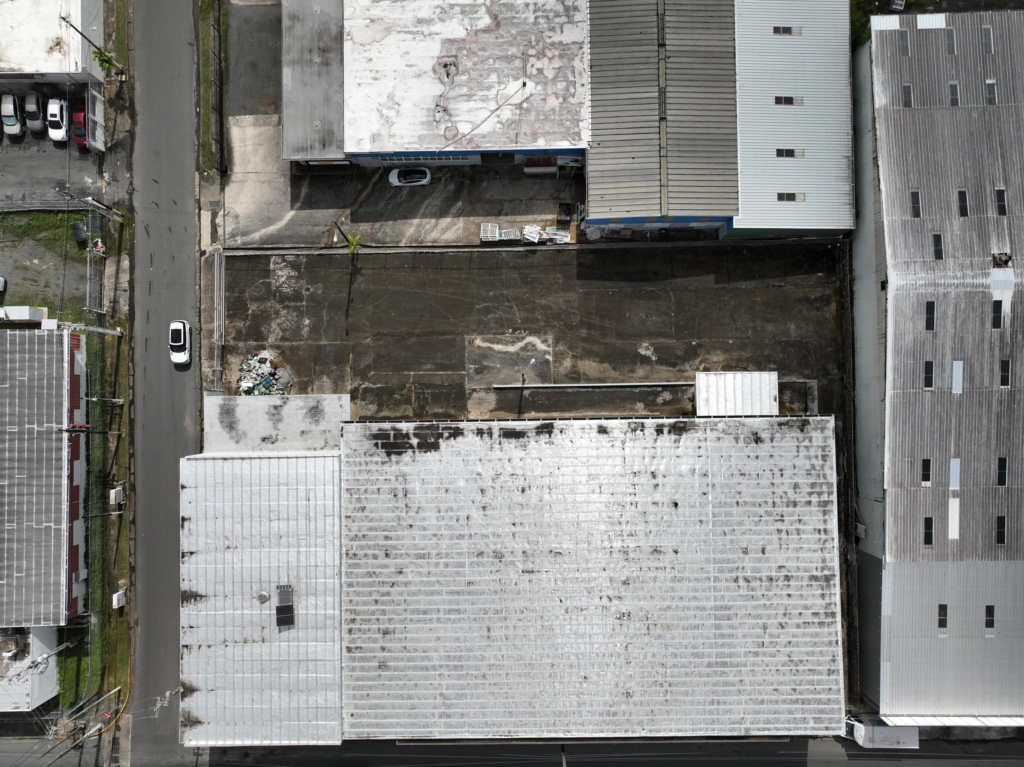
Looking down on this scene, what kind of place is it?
industrial area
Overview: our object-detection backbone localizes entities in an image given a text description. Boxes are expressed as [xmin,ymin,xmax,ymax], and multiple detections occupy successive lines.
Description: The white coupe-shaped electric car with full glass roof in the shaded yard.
[386,165,432,188]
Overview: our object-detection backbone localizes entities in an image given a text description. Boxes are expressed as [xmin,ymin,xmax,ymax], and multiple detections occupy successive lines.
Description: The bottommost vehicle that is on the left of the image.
[166,321,193,366]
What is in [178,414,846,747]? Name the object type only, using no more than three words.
warehouse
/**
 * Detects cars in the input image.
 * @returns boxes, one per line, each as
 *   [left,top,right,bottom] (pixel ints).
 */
[166,321,193,366]
[0,276,5,293]
[67,104,91,147]
[21,91,45,132]
[43,96,70,141]
[0,94,27,137]
[386,165,432,188]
